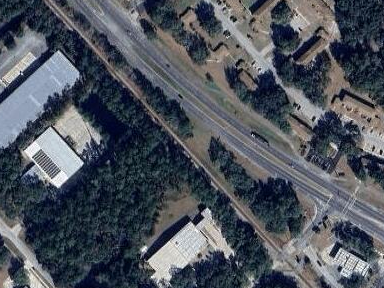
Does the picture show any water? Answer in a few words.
No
